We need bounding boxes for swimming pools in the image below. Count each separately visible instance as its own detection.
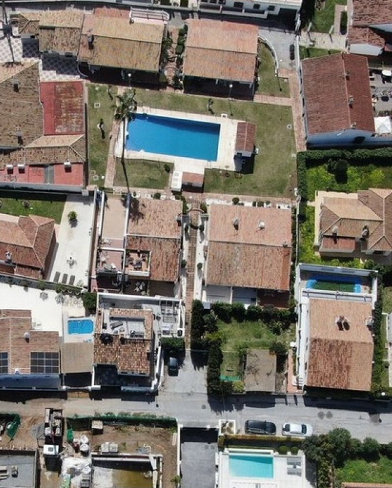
[66,317,96,335]
[229,453,276,480]
[124,111,223,163]
[306,272,364,293]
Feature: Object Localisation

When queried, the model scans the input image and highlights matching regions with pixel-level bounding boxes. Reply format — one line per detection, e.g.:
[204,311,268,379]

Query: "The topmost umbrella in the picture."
[380,65,392,82]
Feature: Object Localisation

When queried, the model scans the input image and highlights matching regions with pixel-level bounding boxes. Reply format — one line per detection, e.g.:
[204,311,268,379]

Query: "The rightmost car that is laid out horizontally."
[283,422,314,438]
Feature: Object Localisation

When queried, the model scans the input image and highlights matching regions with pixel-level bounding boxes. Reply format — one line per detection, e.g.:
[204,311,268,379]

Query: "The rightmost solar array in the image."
[31,352,59,373]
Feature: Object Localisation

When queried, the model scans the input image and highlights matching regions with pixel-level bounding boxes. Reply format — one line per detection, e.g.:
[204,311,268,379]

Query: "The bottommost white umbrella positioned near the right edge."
[375,116,392,133]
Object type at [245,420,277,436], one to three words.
car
